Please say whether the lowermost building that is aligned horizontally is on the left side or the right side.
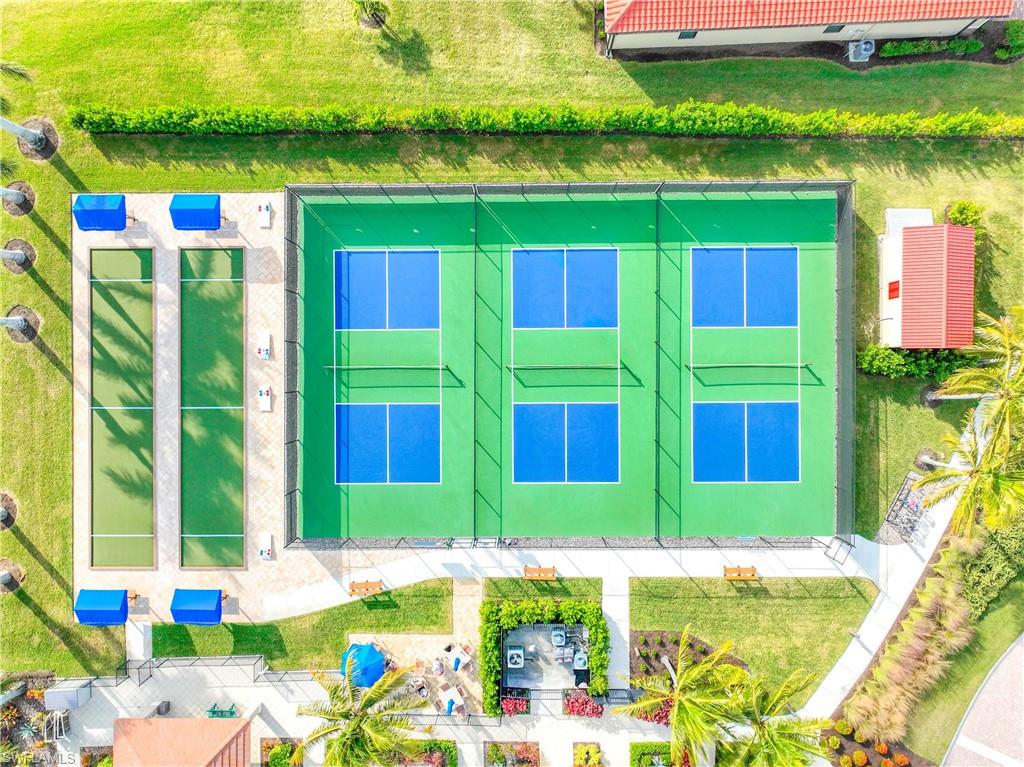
left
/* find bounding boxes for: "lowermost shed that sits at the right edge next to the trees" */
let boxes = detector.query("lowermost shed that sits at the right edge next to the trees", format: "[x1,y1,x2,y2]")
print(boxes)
[879,223,975,348]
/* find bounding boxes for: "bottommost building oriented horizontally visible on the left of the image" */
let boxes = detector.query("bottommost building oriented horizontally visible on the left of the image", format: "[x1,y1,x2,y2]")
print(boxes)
[111,697,266,767]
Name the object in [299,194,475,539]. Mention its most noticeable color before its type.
green sports court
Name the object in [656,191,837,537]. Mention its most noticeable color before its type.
green sports court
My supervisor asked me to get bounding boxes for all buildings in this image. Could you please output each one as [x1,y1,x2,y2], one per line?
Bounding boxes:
[879,223,975,348]
[111,697,266,767]
[603,0,1016,57]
